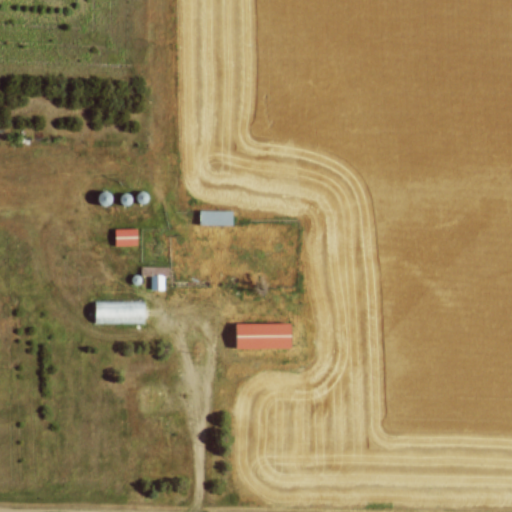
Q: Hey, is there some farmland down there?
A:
Yes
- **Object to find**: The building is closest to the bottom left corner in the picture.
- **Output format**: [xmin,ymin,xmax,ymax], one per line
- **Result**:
[95,301,148,325]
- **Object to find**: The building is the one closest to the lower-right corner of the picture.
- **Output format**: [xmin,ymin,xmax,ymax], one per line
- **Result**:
[236,324,292,350]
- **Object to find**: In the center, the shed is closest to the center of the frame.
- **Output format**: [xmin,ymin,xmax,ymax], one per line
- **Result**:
[200,211,234,226]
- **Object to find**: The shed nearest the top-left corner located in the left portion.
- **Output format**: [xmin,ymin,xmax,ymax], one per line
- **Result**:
[114,229,139,247]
